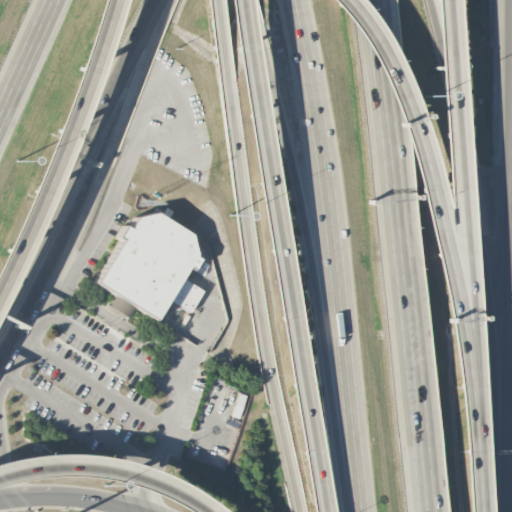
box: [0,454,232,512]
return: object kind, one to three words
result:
overpass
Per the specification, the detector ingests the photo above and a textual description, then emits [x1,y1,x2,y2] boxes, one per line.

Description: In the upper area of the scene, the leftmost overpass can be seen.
[0,0,135,334]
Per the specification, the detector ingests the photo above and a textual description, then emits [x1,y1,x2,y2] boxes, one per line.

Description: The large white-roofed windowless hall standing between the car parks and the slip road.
[98,208,214,322]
